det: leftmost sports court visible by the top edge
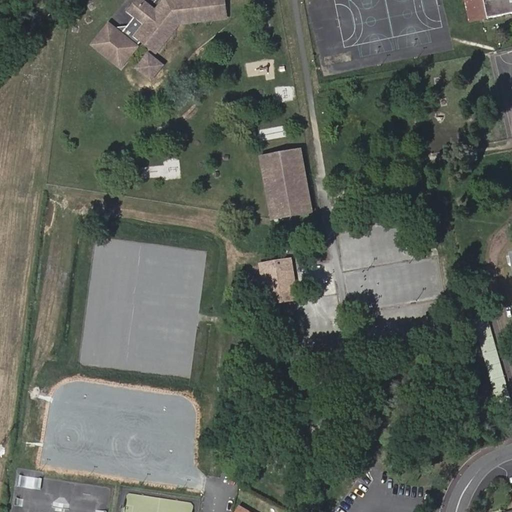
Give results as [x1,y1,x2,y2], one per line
[308,0,454,76]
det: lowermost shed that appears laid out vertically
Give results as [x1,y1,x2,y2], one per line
[480,324,508,396]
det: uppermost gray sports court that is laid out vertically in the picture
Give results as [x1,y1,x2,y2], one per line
[486,50,512,141]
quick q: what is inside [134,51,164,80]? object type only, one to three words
building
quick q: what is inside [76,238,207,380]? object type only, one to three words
sports court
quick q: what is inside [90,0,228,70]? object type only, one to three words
building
